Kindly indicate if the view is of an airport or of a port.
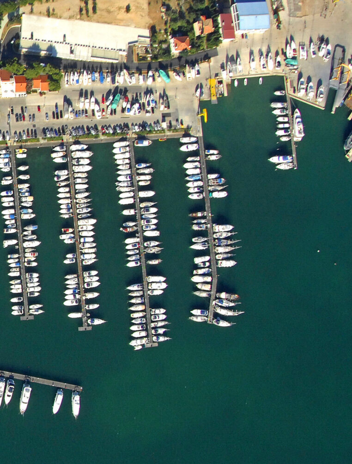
port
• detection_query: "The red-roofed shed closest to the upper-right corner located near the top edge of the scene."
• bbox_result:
[216,13,237,41]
